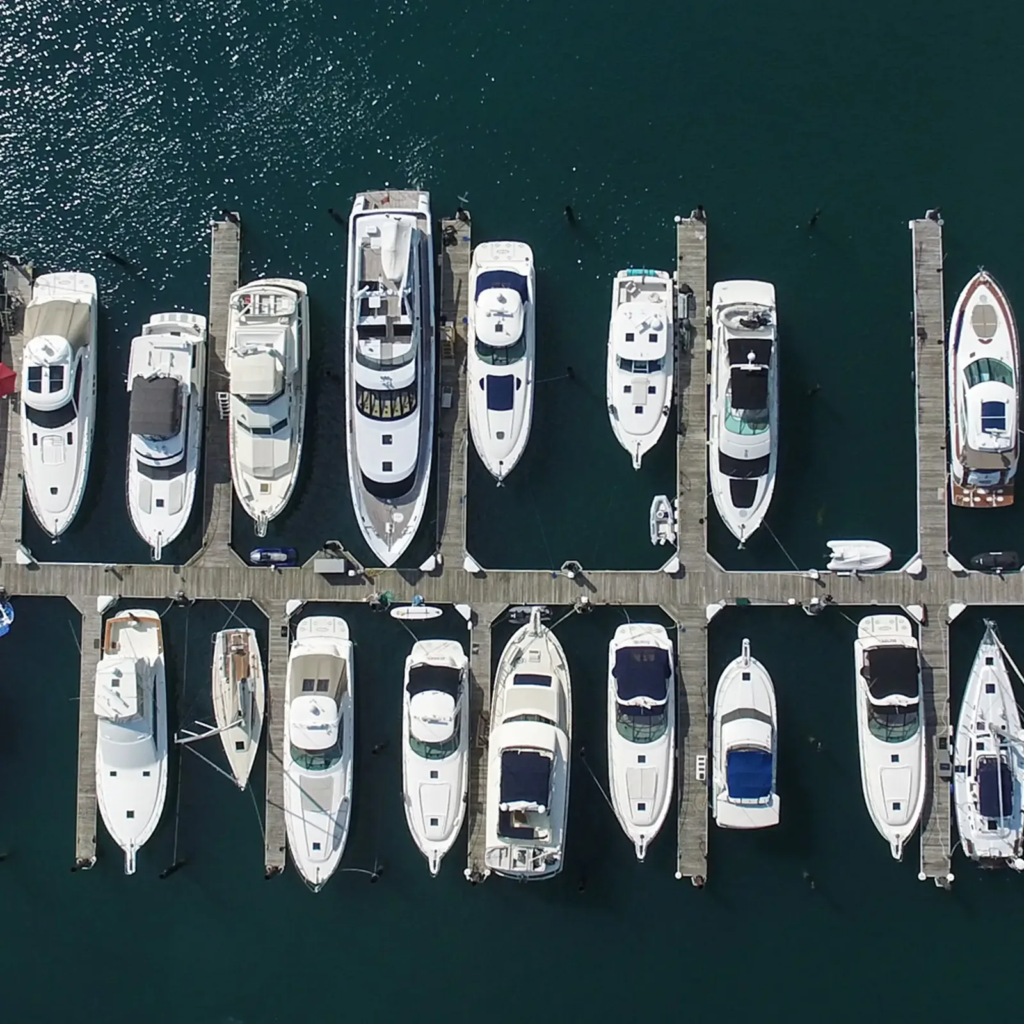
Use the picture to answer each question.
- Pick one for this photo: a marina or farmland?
marina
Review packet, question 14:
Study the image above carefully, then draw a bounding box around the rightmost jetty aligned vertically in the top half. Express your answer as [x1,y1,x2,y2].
[899,211,965,573]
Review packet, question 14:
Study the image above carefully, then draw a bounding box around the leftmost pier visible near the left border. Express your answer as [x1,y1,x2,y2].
[0,259,41,565]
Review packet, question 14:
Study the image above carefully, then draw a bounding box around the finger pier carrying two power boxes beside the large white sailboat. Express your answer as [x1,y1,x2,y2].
[899,604,967,886]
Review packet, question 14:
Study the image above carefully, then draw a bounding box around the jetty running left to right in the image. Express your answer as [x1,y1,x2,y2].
[0,562,1024,612]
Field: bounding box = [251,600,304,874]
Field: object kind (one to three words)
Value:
pier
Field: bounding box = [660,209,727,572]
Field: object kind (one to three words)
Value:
pier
